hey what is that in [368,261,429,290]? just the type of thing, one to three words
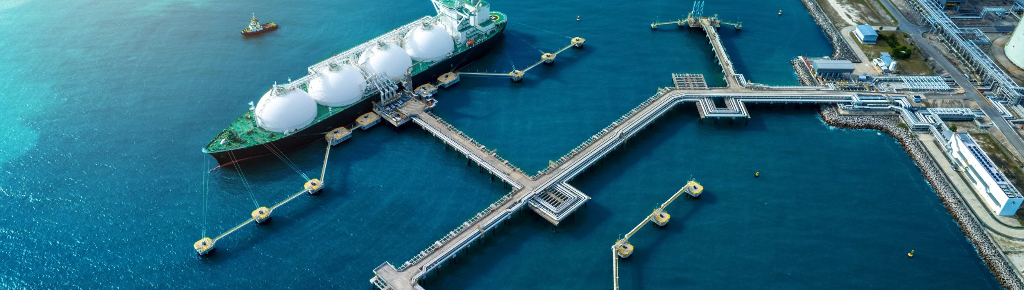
pier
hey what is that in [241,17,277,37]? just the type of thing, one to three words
boat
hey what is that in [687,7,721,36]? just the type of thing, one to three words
pier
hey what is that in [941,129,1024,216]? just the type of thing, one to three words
building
